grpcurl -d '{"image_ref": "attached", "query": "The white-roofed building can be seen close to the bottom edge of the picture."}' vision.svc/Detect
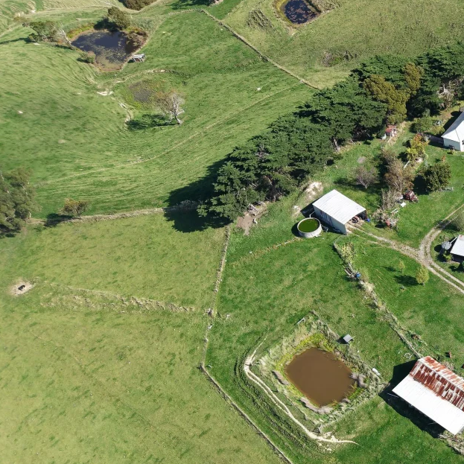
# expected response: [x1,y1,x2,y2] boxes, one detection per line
[395,355,464,442]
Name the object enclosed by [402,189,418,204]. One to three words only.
work vehicle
